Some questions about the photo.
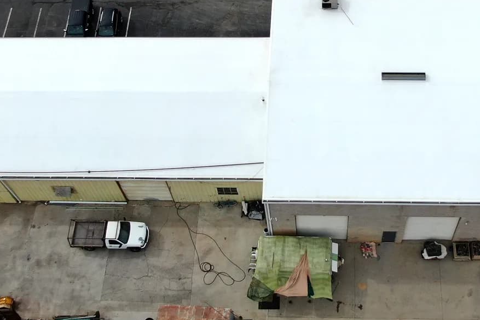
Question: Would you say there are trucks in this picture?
Yes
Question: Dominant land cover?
buildings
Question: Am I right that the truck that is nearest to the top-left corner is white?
No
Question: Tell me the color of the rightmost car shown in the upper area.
black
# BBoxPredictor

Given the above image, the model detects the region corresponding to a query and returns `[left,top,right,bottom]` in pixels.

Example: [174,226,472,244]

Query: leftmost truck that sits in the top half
[61,0,94,37]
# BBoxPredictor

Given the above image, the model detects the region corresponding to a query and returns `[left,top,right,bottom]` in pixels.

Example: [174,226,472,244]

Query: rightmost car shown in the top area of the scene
[94,8,124,37]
